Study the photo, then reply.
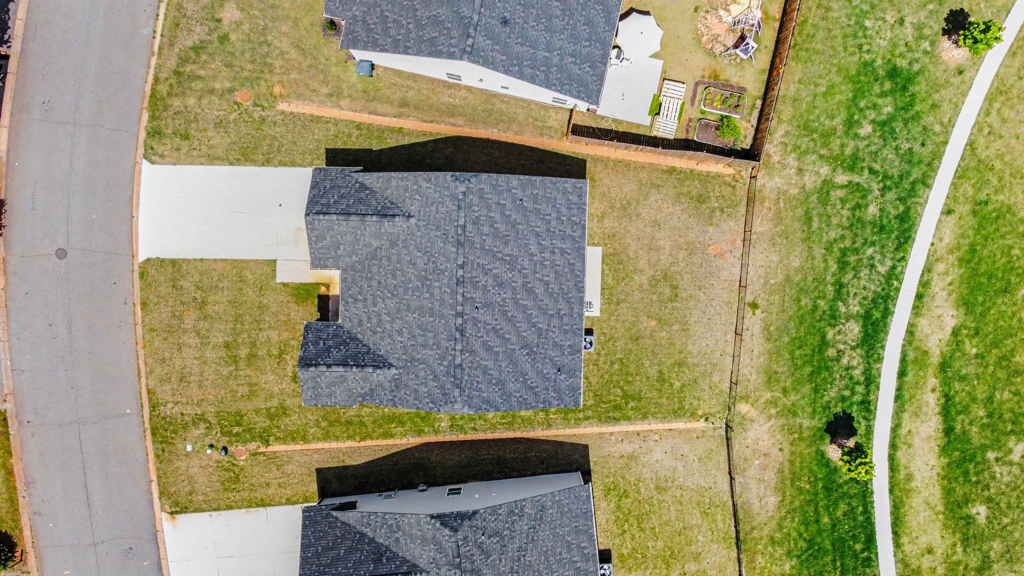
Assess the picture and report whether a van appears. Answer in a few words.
No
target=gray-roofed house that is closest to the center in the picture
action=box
[296,166,588,414]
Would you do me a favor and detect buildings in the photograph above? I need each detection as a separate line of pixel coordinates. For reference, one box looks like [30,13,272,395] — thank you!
[296,166,588,414]
[323,0,624,120]
[298,473,602,576]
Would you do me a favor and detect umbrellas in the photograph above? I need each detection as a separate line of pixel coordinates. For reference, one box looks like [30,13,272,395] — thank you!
[618,13,663,58]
